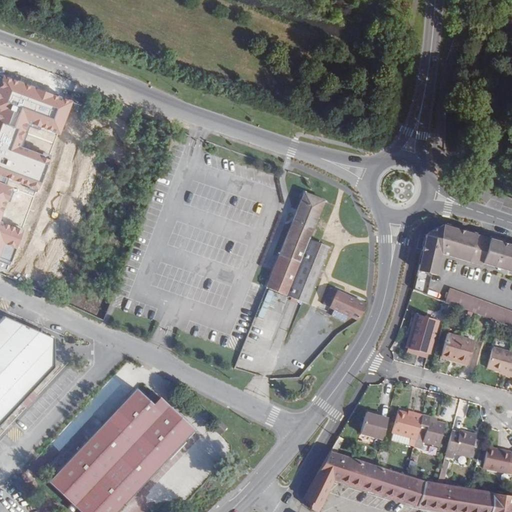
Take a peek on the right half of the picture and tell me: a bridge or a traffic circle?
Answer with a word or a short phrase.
traffic circle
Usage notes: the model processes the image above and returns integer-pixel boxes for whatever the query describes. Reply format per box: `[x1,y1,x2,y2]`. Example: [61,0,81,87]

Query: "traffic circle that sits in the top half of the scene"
[360,148,439,226]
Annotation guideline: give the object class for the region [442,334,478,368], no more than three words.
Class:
house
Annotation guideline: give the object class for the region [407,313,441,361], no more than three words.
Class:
house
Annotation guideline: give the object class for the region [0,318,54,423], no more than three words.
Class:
building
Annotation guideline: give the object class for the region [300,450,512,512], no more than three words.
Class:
building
